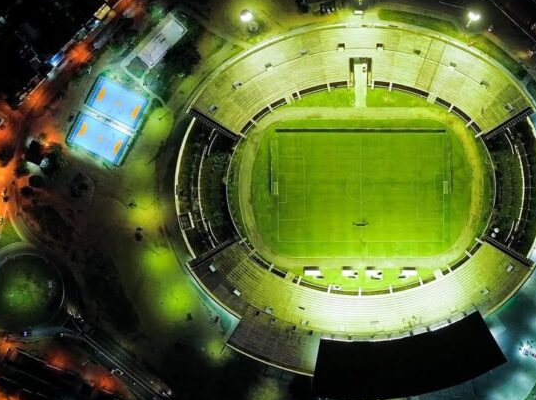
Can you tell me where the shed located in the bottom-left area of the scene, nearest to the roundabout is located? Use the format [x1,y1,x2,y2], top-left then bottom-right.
[2,341,70,381]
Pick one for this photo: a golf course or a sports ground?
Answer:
sports ground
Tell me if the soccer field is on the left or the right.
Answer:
right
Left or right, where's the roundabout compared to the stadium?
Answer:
on its left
